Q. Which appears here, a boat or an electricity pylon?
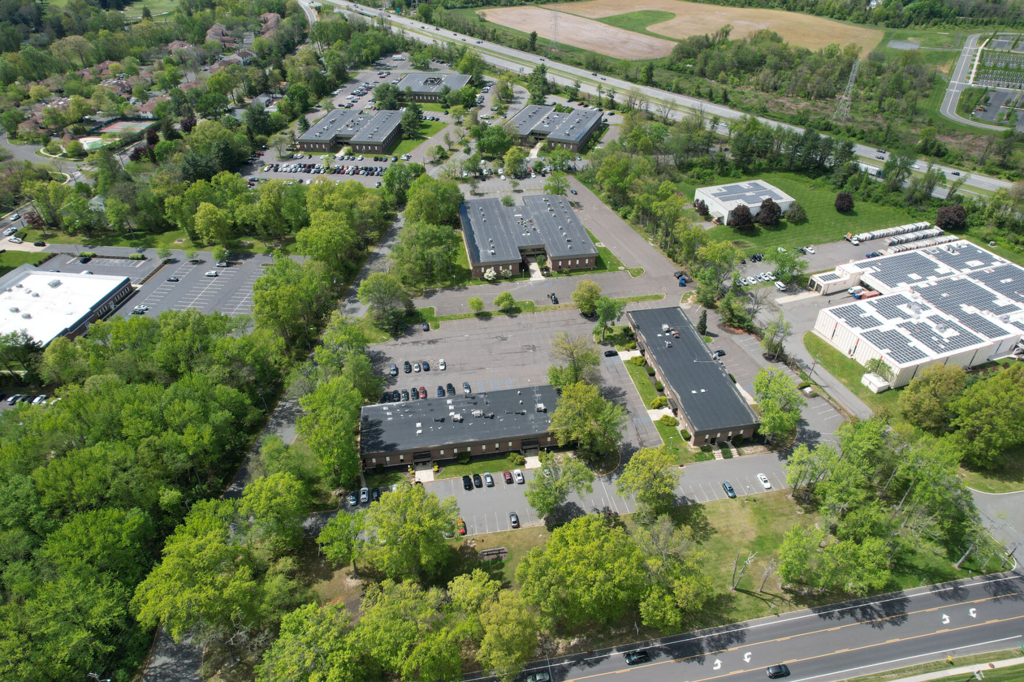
electricity pylon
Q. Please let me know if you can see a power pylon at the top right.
Yes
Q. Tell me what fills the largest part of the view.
trees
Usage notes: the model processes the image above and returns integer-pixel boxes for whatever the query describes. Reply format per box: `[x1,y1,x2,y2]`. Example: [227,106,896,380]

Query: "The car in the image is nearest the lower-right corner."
[764,663,792,679]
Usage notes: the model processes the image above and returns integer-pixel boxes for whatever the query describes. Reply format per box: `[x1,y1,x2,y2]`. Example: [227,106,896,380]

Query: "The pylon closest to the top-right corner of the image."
[829,53,865,120]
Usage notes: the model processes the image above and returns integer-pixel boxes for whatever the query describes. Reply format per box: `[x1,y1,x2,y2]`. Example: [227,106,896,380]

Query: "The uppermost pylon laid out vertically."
[545,1,564,51]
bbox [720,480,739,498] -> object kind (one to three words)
car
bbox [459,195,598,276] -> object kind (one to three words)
building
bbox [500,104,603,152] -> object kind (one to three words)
building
